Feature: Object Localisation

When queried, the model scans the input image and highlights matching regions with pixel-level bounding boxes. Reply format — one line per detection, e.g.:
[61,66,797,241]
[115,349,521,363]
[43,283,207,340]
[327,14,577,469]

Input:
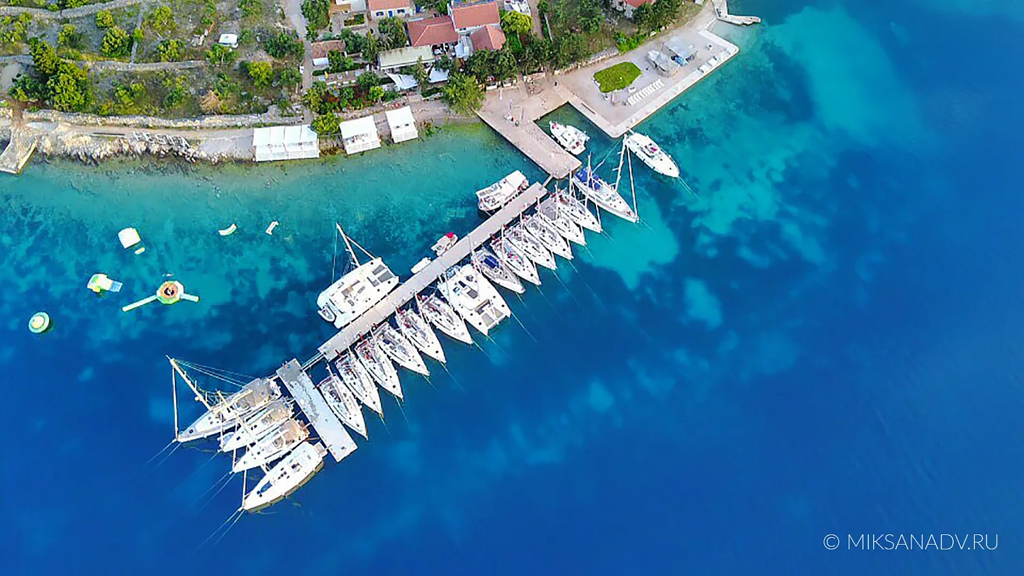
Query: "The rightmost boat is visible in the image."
[618,126,702,204]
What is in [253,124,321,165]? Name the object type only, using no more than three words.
gazebo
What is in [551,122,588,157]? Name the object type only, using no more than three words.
boat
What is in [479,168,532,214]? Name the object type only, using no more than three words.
boat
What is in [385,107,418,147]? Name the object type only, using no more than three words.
gazebo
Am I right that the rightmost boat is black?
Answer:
No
